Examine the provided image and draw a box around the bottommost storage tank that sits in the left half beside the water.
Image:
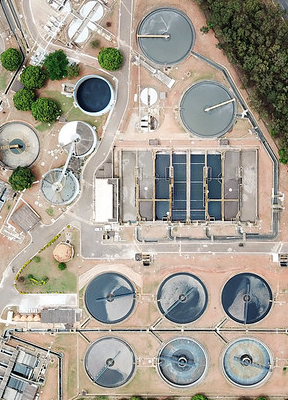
[84,335,137,389]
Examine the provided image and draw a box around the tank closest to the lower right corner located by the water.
[220,334,273,388]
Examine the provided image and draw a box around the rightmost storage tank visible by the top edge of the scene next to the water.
[135,6,196,66]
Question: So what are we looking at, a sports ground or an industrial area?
industrial area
